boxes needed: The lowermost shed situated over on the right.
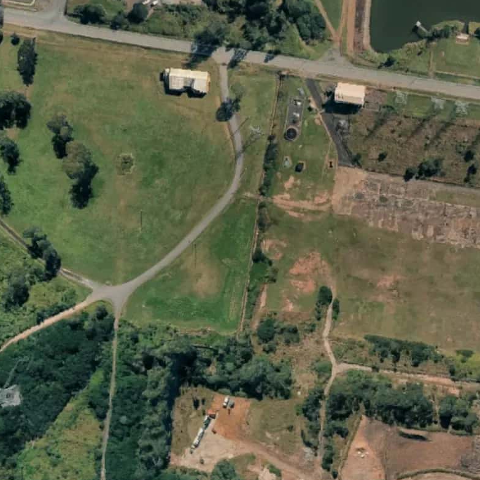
[335,82,367,106]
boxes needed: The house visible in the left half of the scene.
[163,68,208,92]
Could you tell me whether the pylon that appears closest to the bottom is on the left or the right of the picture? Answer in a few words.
left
